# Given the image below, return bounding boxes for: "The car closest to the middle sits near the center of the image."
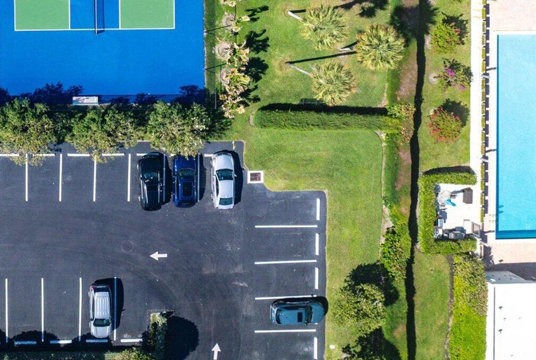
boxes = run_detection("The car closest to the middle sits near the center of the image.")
[209,151,238,210]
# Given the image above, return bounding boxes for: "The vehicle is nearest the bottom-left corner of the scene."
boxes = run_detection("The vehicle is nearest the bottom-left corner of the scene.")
[88,282,115,338]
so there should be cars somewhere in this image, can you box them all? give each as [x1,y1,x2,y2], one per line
[209,151,238,210]
[88,282,115,338]
[267,298,326,329]
[136,154,165,211]
[170,152,200,209]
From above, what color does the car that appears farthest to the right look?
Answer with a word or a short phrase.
blue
